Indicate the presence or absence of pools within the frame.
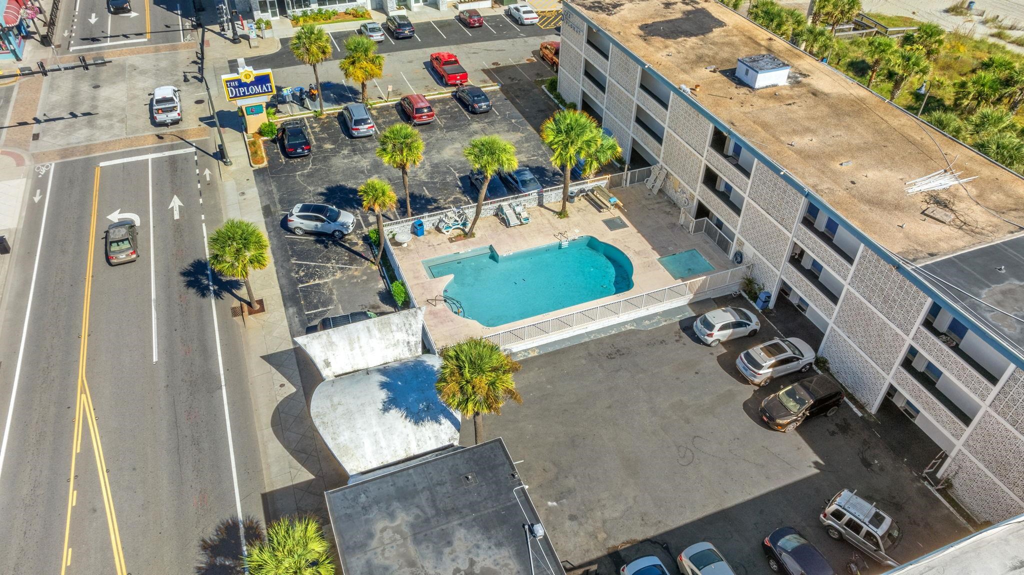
Yes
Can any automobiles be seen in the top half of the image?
Yes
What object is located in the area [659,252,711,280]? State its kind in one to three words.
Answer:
swimming pool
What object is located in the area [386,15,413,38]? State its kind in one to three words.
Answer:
car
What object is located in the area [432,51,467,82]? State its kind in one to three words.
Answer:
truck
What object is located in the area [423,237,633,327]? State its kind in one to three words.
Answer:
swimming pool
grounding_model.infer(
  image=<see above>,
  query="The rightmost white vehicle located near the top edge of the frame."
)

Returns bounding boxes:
[507,3,536,24]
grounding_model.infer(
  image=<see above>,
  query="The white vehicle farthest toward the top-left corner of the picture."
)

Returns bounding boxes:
[148,85,180,121]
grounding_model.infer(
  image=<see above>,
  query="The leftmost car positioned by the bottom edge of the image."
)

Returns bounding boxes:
[623,549,672,575]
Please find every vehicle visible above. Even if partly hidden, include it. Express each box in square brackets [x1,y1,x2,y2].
[148,85,180,121]
[98,218,137,265]
[400,91,434,123]
[362,21,386,42]
[269,96,279,112]
[309,306,387,333]
[458,8,484,27]
[539,45,559,75]
[502,155,543,192]
[103,0,126,15]
[737,335,822,386]
[761,519,838,575]
[467,169,508,199]
[272,120,310,154]
[339,102,373,136]
[386,15,413,38]
[286,203,355,238]
[764,371,854,429]
[697,303,764,345]
[819,485,929,569]
[457,84,490,112]
[432,51,467,82]
[623,549,672,575]
[297,90,304,107]
[680,535,742,575]
[507,3,536,24]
